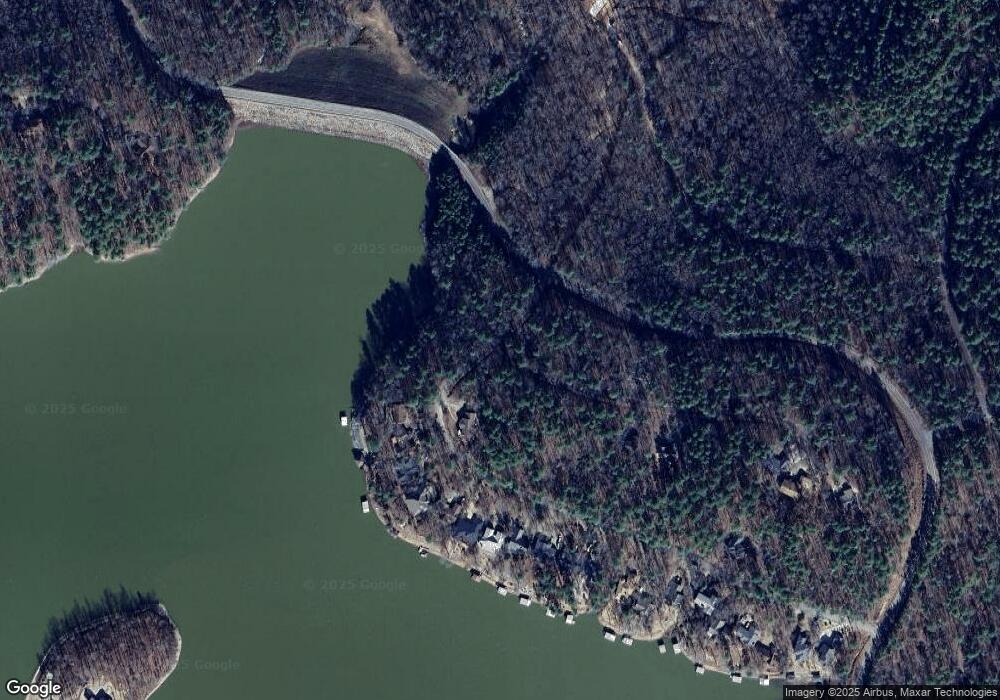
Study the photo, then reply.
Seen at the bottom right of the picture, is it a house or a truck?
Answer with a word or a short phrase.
house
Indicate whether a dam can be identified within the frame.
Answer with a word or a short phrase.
Yes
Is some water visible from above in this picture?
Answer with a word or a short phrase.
Yes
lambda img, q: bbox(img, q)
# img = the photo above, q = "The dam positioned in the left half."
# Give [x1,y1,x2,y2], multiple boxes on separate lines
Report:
[219,44,466,168]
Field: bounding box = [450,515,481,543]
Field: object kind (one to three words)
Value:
house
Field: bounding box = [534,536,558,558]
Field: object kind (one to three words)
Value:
house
